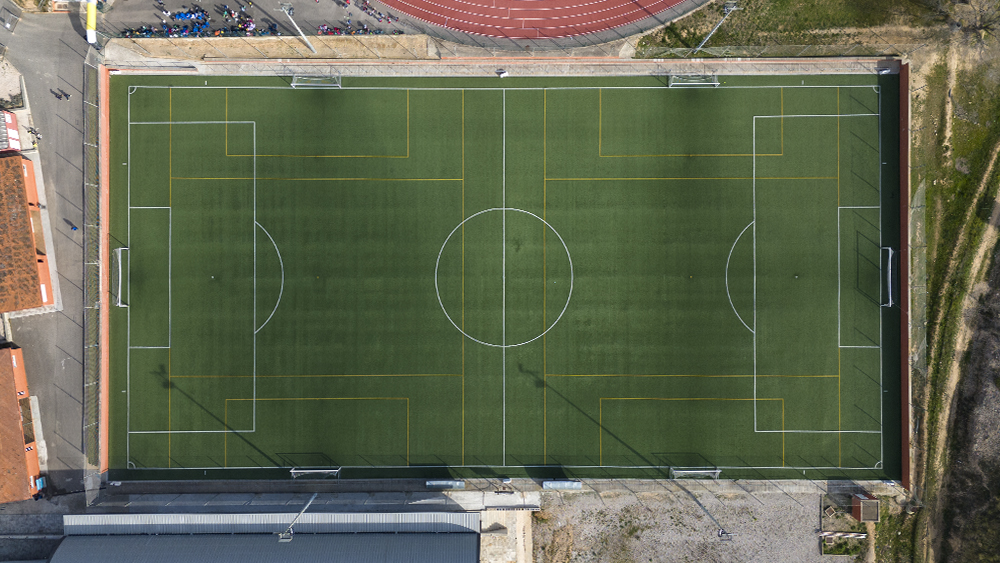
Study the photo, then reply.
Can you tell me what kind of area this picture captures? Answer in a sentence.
The picture captures a sports ground.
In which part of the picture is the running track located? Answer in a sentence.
The running track is in the top part of the image.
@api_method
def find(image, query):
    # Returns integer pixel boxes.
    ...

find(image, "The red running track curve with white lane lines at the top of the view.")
[375,0,687,39]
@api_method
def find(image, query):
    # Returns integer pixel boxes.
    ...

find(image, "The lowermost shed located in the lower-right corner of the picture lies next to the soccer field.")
[853,495,880,522]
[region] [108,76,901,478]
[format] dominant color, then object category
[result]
green soccer field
